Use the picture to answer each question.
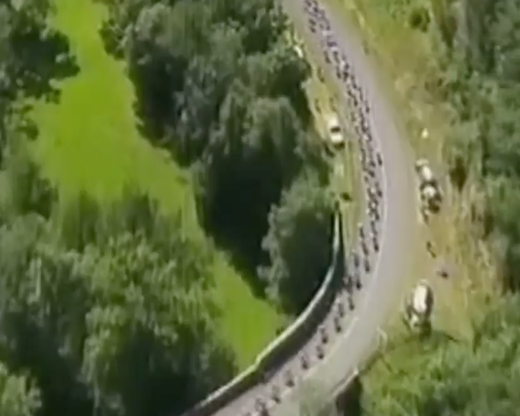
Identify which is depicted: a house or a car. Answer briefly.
car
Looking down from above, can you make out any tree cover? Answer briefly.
Yes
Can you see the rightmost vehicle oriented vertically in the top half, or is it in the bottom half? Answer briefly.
bottom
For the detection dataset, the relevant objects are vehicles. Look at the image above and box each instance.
[409,283,433,328]
[416,180,446,210]
[324,119,346,142]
